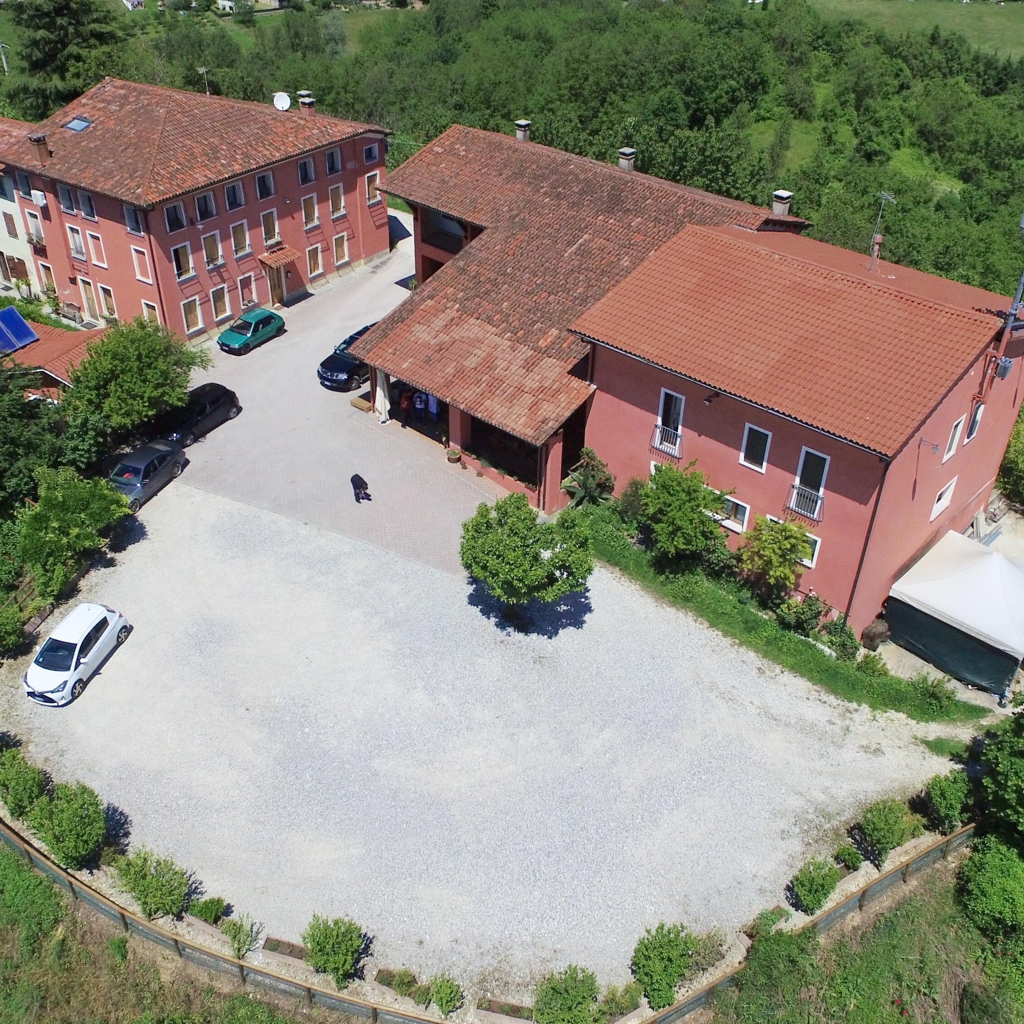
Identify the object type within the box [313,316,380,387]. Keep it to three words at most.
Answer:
car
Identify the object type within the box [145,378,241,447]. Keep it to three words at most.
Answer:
car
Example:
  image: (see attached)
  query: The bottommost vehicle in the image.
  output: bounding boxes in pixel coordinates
[16,599,125,706]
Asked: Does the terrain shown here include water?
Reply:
No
